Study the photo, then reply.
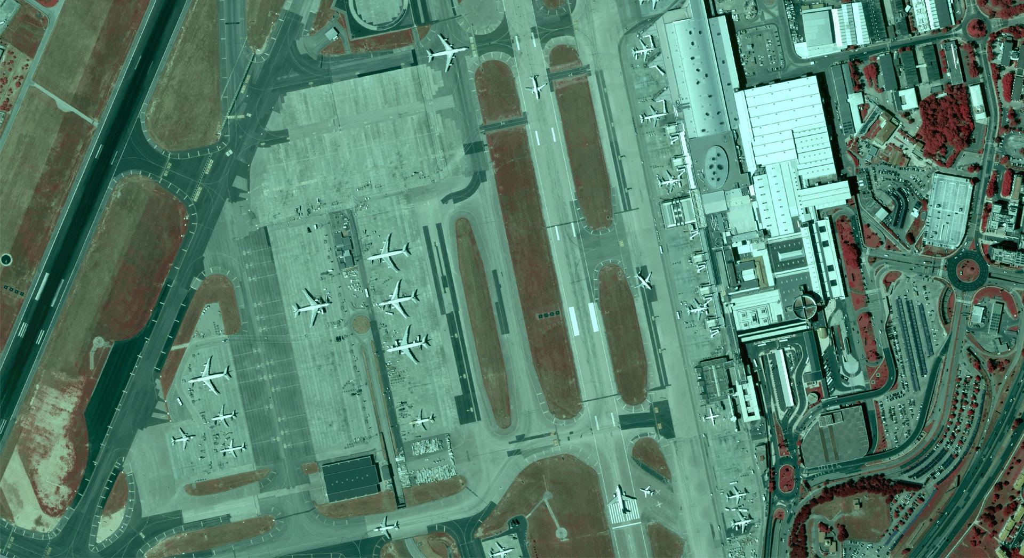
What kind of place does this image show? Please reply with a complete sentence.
The picture captures an airport.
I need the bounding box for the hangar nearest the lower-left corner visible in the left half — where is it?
[323,456,380,503]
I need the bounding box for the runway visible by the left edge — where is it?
[0,0,186,442]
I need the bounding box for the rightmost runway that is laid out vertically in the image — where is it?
[503,0,648,558]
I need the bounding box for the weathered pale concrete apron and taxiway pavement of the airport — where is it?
[70,0,768,558]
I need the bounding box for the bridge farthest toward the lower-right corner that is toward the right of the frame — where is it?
[795,347,895,429]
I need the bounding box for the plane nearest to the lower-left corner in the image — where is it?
[171,429,195,450]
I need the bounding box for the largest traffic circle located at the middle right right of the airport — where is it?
[948,251,988,291]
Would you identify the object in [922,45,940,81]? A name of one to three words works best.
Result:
shed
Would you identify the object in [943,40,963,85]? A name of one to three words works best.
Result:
building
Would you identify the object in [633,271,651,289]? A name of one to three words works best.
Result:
airplane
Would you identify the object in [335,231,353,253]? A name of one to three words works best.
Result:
building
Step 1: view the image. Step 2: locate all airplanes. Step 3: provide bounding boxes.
[220,439,247,459]
[378,279,420,318]
[212,404,238,427]
[639,0,656,11]
[387,324,432,364]
[633,271,651,289]
[171,429,195,450]
[657,171,682,195]
[367,232,411,273]
[730,512,752,534]
[524,75,547,99]
[703,410,719,426]
[631,40,654,61]
[640,486,655,498]
[687,299,708,321]
[427,33,469,73]
[725,487,748,506]
[374,516,400,538]
[609,484,638,514]
[188,356,232,396]
[292,288,331,328]
[640,106,668,128]
[488,541,515,558]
